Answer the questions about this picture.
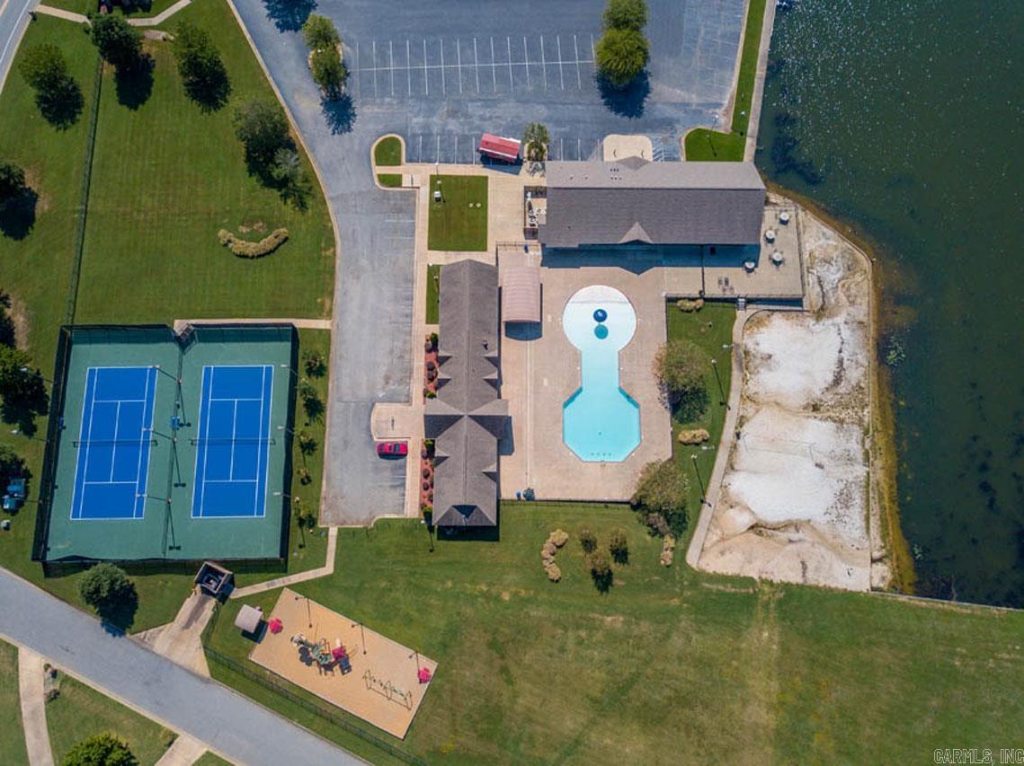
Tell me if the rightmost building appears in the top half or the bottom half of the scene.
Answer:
top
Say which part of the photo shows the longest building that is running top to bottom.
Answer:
center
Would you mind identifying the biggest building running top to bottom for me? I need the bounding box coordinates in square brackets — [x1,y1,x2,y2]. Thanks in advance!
[424,259,508,533]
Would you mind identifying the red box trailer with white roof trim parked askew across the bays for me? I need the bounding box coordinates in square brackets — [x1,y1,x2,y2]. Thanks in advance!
[476,133,520,161]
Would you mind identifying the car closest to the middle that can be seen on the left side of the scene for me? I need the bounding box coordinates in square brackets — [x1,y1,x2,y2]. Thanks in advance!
[377,442,408,456]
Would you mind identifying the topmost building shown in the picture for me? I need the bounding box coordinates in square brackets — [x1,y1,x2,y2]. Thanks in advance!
[538,155,766,249]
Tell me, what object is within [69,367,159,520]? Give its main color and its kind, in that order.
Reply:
blue tennis court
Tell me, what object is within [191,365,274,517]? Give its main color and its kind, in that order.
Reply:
blue tennis court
